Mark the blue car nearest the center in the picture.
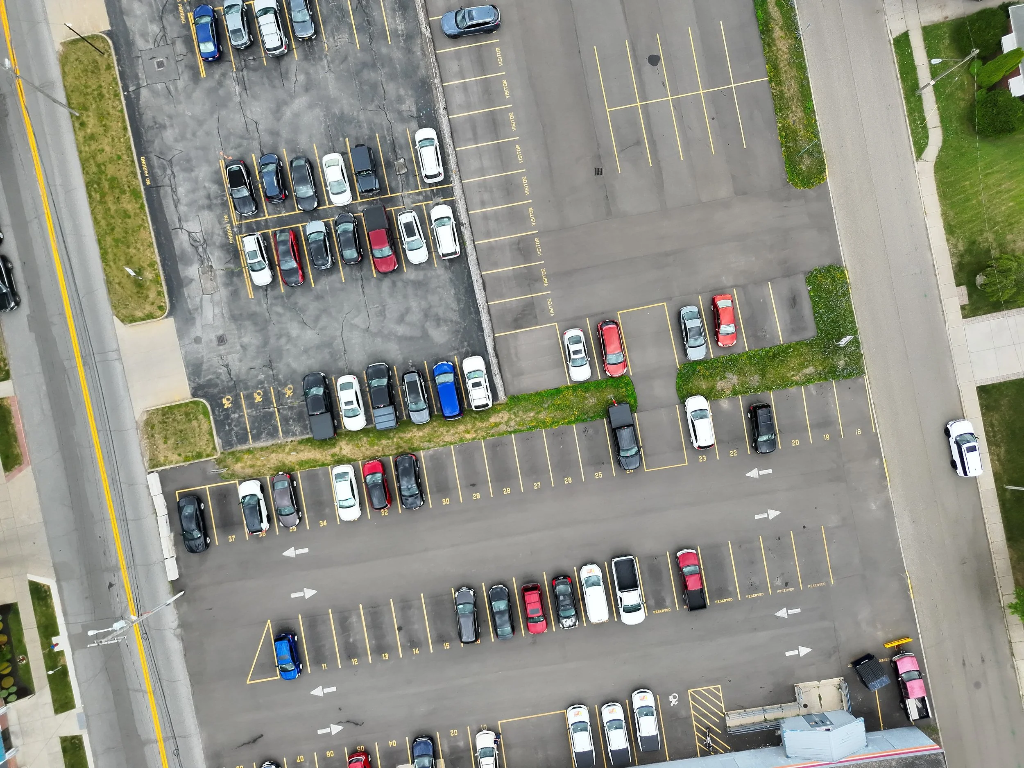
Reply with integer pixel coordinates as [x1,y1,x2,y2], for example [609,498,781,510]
[433,361,465,422]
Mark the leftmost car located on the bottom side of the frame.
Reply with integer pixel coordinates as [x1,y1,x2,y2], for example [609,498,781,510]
[177,494,209,553]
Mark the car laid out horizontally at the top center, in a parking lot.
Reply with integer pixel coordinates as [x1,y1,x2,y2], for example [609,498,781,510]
[440,5,502,38]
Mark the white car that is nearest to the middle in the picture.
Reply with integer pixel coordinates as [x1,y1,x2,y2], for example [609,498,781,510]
[463,355,493,412]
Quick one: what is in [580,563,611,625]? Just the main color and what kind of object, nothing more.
white van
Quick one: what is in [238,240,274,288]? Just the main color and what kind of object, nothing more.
white car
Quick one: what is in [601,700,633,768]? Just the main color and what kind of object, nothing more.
white truck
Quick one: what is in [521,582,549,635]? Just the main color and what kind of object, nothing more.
red car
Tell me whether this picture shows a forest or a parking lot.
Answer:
parking lot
